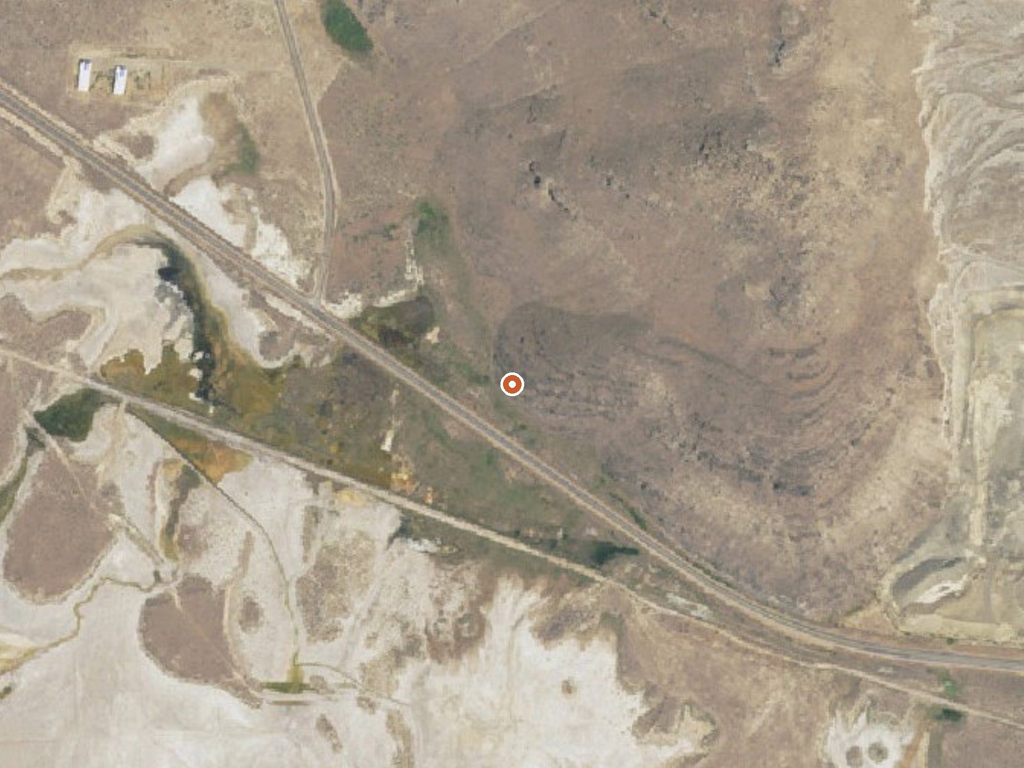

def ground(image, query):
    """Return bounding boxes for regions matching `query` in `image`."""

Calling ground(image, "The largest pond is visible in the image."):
[142,240,216,409]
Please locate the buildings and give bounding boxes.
[78,59,92,92]
[113,66,126,95]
